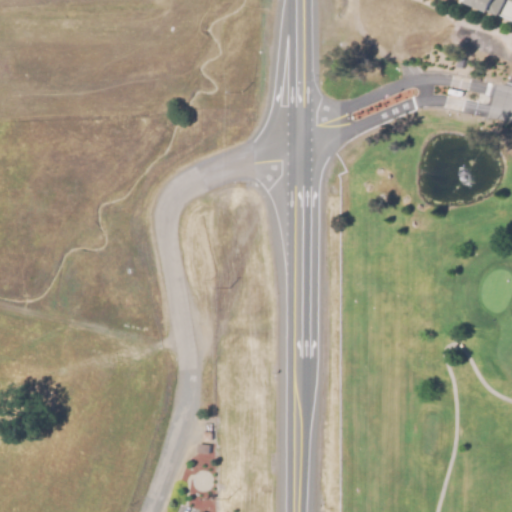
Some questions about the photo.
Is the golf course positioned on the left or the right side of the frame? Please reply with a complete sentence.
The golf course appears in the right half of the scene.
